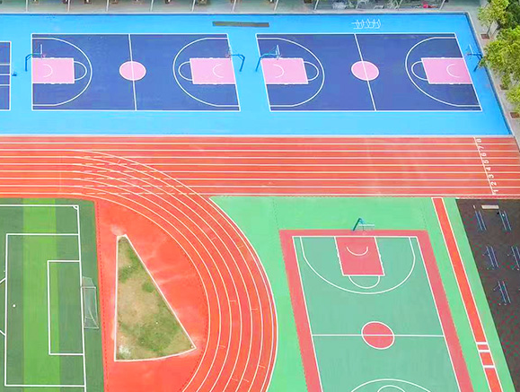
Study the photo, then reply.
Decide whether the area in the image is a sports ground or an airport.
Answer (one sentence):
It's a sports ground.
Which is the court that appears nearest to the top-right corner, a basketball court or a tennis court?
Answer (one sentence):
From above, the court that appears nearest to the top-right corner can be identified as a basketball court.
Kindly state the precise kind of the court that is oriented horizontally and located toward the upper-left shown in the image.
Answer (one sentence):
The court that is oriented horizontally and located toward the upper-left appears to be a basketball court.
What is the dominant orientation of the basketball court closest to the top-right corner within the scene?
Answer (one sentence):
The basketball court closest to the top-right corner has been laid out from left to right relative to the frame.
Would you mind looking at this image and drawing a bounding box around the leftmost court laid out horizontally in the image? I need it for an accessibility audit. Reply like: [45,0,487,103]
[32,33,241,111]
